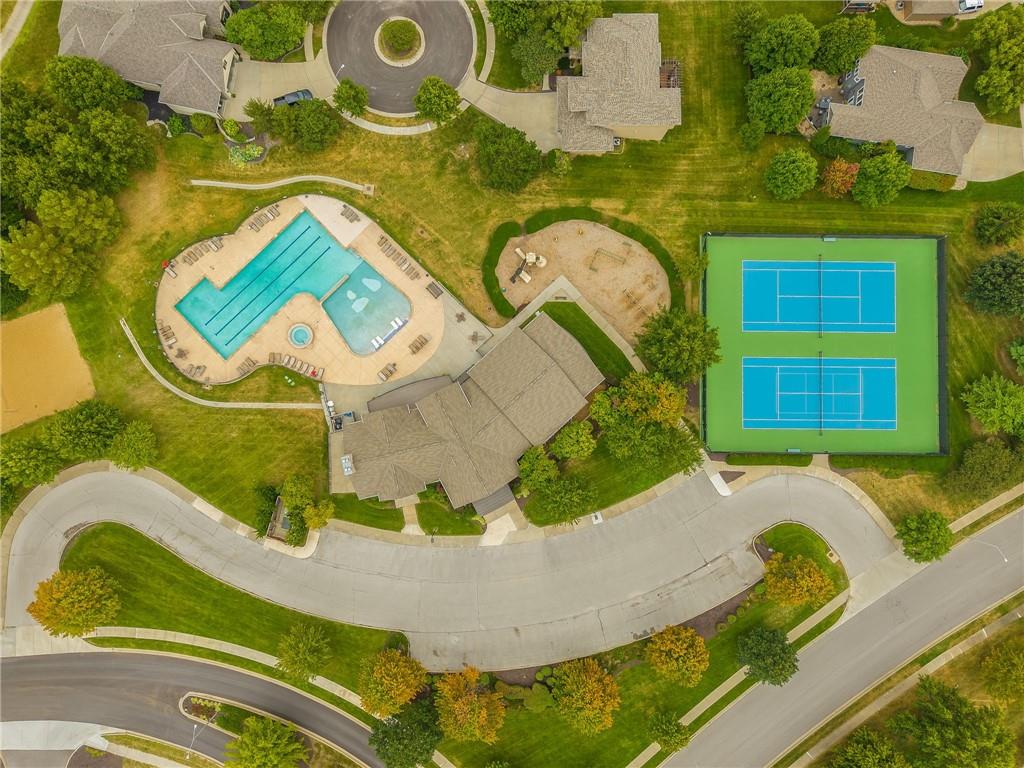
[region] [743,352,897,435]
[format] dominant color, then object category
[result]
blue tennis court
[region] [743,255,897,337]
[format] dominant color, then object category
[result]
blue tennis court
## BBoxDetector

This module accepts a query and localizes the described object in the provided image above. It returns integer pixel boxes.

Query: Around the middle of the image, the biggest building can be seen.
[344,312,607,519]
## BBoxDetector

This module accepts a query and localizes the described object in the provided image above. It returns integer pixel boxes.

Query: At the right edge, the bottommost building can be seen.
[823,46,985,177]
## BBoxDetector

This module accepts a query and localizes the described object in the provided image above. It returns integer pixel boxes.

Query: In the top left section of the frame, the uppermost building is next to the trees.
[57,0,233,119]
